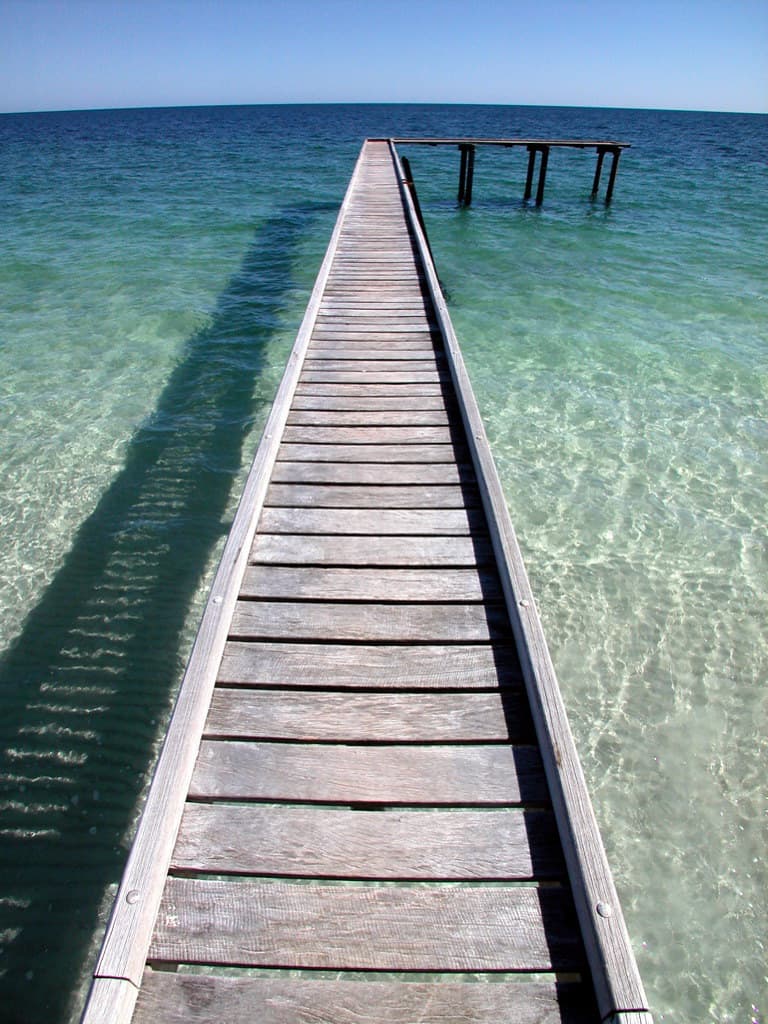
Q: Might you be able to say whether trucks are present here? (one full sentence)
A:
No, there isn't any truck down there.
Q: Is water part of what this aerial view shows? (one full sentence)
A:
Yes, the picture does contain water.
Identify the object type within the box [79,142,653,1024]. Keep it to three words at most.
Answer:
pier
